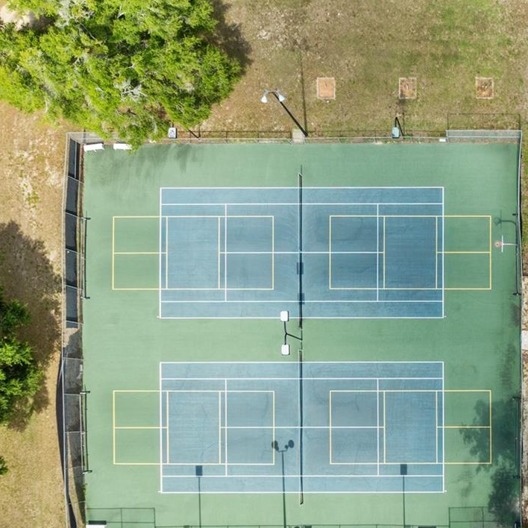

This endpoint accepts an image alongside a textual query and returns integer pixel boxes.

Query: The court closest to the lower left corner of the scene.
[112,390,274,465]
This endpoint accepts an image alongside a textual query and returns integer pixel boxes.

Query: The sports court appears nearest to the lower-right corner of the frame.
[329,390,491,465]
